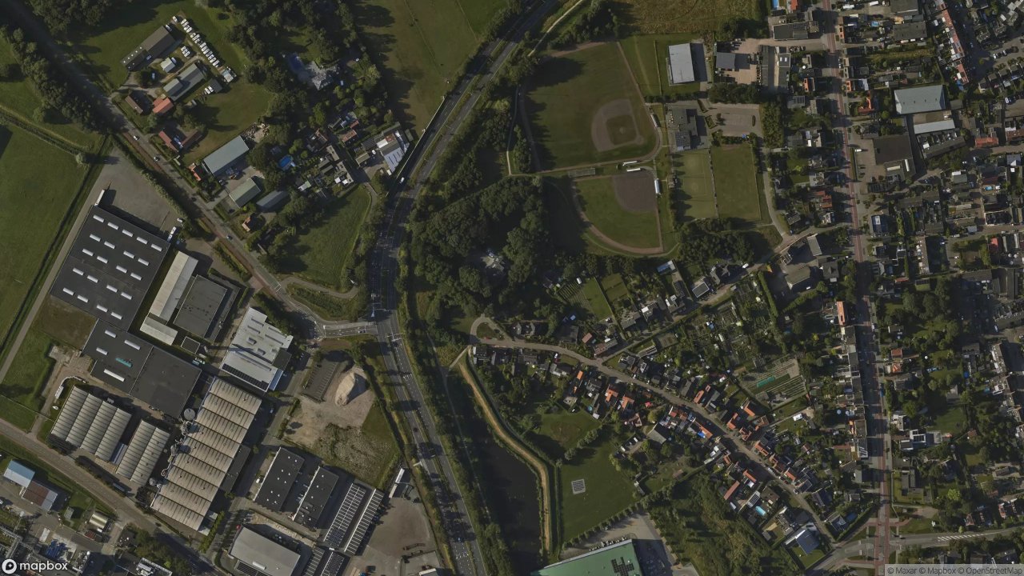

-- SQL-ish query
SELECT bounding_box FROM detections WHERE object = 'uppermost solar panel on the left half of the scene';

[225,364,268,390]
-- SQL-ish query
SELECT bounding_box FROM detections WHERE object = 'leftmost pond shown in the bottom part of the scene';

[448,370,542,576]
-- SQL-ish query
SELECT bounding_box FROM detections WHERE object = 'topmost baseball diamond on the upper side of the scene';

[522,40,662,173]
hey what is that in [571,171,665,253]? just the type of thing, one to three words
baseball field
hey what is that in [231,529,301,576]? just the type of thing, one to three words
building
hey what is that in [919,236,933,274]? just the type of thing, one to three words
house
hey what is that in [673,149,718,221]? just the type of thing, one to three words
sports field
